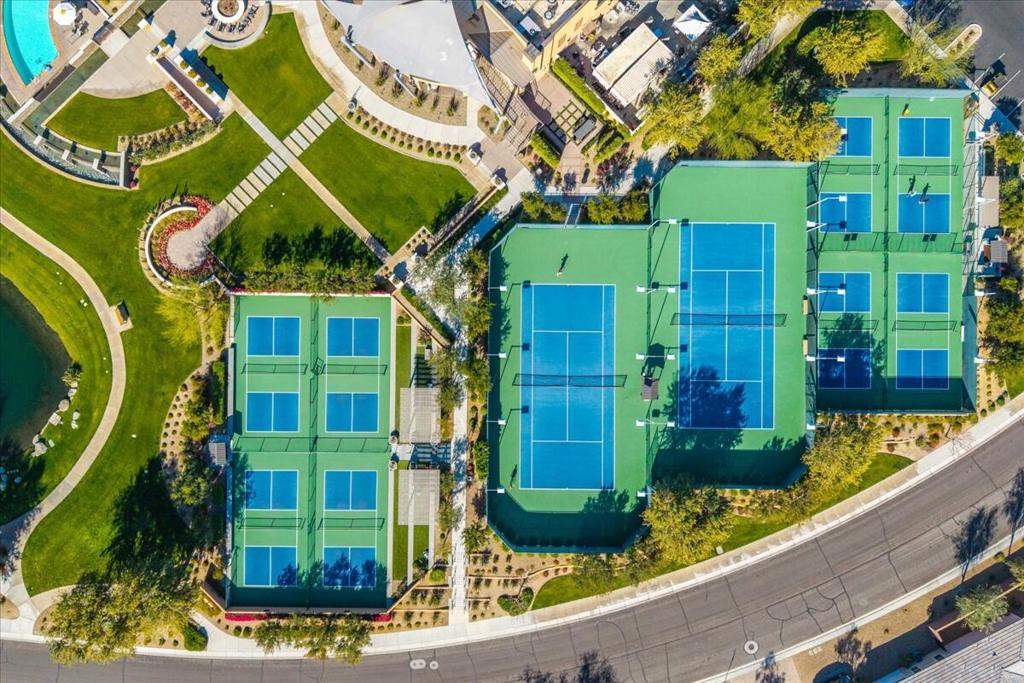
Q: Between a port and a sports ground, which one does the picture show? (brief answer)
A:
sports ground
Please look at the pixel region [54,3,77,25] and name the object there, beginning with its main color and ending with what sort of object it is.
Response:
white umbrella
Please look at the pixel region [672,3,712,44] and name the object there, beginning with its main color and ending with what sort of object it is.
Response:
white umbrella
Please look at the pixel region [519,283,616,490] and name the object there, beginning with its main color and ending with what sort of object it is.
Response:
blue tennis court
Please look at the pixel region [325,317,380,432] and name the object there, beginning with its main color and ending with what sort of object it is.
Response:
blue sports court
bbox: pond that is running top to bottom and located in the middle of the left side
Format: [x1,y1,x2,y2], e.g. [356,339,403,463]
[0,279,53,454]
